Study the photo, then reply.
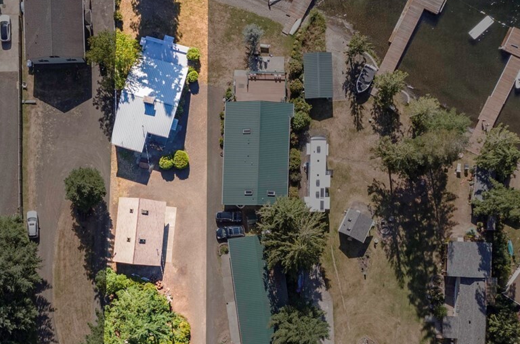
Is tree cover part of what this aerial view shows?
Yes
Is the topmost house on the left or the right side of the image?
left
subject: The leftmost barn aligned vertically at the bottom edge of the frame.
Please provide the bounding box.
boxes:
[225,236,275,344]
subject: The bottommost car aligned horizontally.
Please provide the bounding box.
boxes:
[217,225,245,239]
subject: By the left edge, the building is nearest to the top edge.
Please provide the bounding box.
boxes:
[23,0,92,64]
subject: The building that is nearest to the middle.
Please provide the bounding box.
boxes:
[222,101,295,209]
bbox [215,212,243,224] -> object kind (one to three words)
vehicle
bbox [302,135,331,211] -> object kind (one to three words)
trailer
